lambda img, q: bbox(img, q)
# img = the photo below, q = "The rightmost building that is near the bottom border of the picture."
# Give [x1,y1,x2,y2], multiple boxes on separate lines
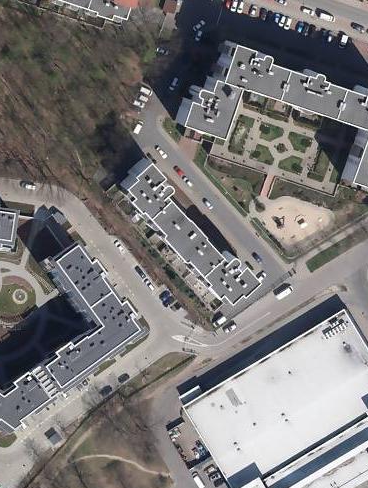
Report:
[179,310,368,488]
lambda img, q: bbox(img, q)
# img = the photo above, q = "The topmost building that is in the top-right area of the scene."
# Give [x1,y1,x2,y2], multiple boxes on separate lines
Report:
[176,42,368,187]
